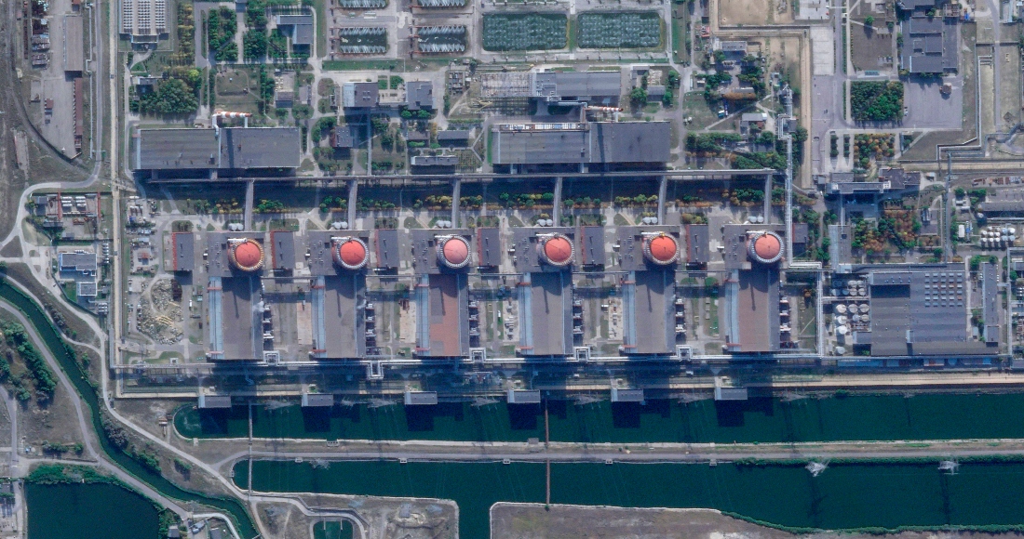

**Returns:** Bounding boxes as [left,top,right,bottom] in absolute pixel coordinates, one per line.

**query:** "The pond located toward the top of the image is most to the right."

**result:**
[576,10,663,49]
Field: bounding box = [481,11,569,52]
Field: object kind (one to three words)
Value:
pond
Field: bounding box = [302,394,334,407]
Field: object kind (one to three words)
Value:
building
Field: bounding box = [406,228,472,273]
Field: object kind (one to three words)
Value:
building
